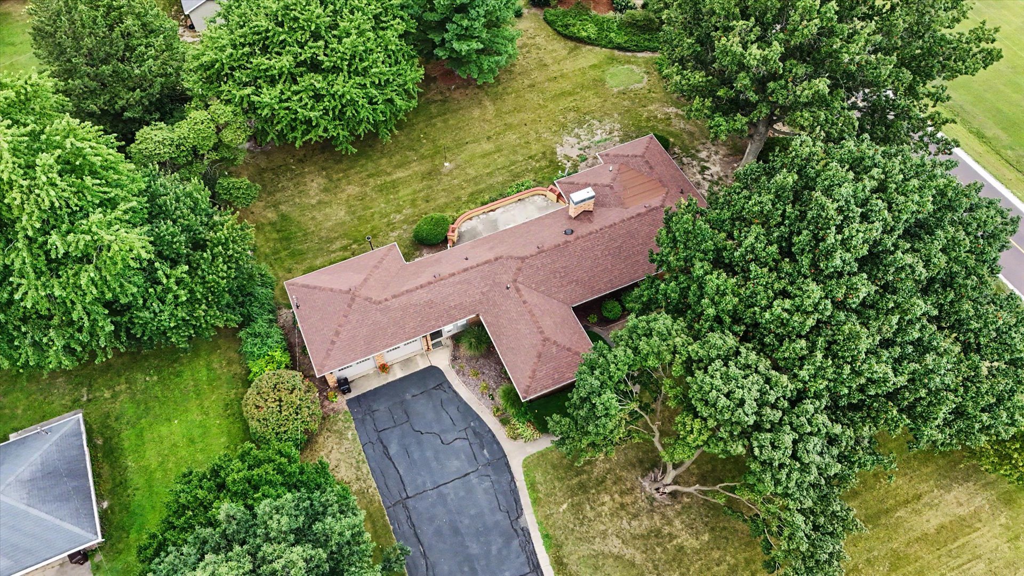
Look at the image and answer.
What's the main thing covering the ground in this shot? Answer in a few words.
trees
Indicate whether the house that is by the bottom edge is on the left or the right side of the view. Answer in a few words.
left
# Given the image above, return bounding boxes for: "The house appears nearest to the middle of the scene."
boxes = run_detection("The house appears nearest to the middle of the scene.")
[284,133,735,405]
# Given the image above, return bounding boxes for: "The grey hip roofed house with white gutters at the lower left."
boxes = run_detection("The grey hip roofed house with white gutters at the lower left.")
[0,410,110,576]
